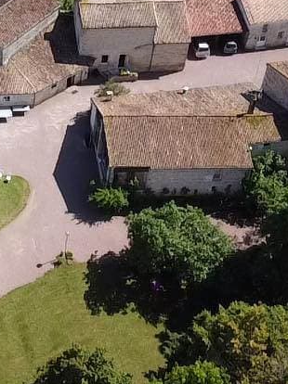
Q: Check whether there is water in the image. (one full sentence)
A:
No, there's no water in this view.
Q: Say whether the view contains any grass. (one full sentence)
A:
Yes, some grass is visible.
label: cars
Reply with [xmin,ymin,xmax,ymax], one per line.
[218,34,242,56]
[192,37,213,60]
